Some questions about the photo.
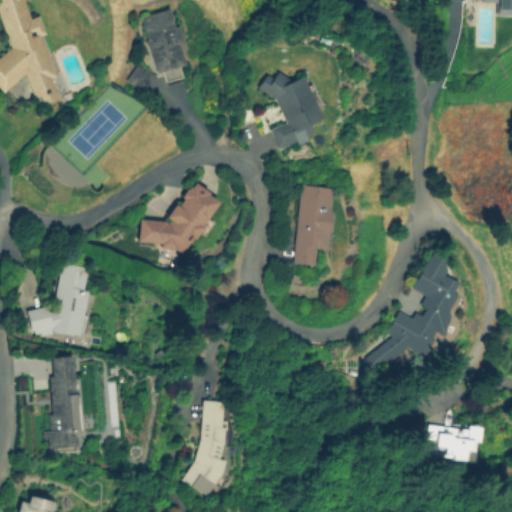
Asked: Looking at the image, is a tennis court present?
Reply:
Yes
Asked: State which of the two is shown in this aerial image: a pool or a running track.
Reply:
pool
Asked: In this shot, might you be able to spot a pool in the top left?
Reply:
Yes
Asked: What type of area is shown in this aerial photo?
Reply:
residential area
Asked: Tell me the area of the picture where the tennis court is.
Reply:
top left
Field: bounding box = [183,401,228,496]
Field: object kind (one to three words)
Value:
house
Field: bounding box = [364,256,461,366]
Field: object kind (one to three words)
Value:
house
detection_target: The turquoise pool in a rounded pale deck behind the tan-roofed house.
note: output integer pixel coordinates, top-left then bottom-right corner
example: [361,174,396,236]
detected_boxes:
[54,44,90,92]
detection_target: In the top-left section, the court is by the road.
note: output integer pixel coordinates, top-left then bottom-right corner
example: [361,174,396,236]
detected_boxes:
[52,86,146,186]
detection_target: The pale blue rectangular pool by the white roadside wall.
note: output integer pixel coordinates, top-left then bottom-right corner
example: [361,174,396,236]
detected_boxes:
[466,0,496,48]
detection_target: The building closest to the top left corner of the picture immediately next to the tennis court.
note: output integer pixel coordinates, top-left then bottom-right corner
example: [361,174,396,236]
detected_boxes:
[0,0,62,105]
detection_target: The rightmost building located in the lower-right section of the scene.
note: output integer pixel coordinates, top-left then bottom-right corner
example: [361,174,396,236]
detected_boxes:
[428,425,486,462]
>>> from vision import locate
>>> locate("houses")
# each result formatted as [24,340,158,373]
[183,401,228,496]
[140,184,222,252]
[19,496,57,512]
[364,256,461,366]
[0,0,62,105]
[143,10,188,83]
[498,0,512,16]
[28,266,89,337]
[296,185,333,266]
[258,70,325,149]
[428,425,486,462]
